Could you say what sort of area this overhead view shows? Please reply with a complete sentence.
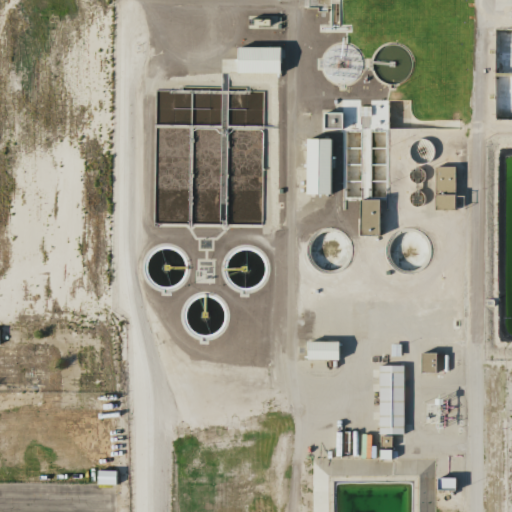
This image shows an industrial area.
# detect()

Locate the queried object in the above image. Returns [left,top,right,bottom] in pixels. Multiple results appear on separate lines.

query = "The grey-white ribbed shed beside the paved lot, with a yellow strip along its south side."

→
[96,470,117,488]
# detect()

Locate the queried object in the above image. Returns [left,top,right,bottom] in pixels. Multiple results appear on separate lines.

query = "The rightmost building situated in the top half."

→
[436,166,457,210]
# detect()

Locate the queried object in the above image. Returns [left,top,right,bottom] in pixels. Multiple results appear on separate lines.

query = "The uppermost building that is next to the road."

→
[237,46,282,72]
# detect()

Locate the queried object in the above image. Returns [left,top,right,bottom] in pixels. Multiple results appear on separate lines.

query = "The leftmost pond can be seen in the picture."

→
[314,460,436,512]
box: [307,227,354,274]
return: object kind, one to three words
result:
storage tank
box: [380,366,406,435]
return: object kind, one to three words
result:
shed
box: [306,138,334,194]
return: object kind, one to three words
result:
building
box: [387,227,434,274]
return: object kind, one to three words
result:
storage tank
